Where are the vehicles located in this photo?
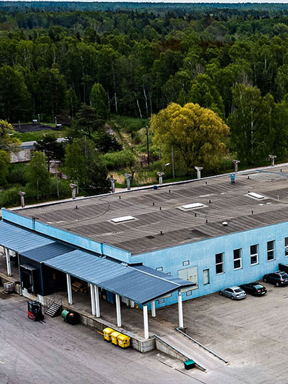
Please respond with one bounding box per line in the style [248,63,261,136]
[219,287,247,301]
[263,271,288,287]
[26,302,50,321]
[241,282,266,296]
